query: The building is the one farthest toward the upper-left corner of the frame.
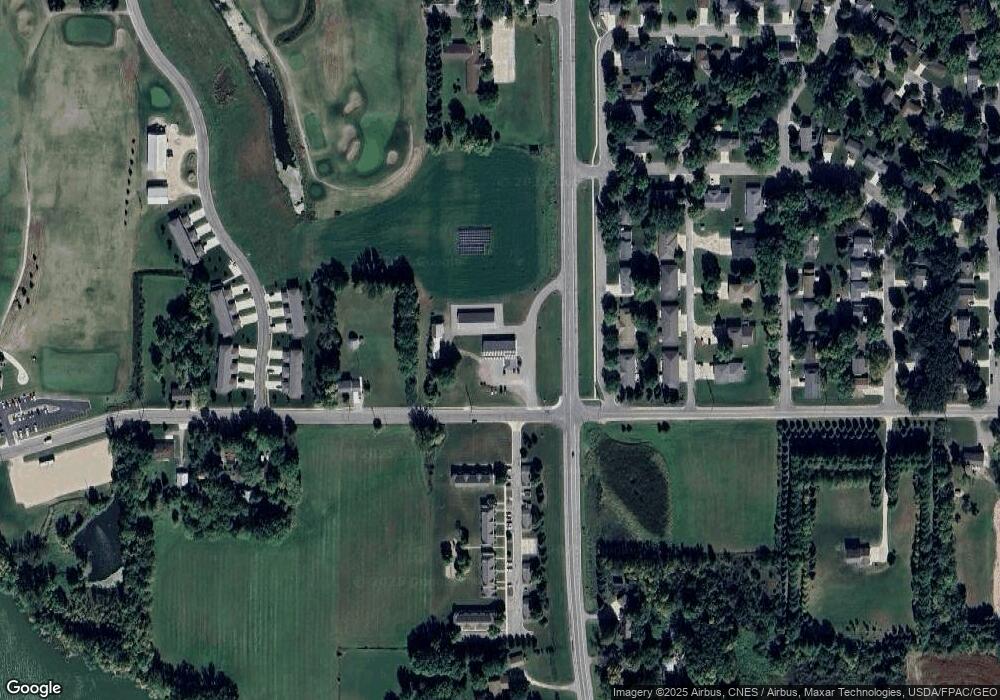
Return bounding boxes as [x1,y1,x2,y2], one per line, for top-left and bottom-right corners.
[147,132,167,172]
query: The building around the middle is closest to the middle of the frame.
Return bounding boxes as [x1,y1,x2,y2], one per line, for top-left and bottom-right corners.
[482,338,515,350]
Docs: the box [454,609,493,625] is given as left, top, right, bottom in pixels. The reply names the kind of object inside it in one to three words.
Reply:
building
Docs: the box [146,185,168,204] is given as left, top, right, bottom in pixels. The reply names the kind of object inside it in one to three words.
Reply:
barn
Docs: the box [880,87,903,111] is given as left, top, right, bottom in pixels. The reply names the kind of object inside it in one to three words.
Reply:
house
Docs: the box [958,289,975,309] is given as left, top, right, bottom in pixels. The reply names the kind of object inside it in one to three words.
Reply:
house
